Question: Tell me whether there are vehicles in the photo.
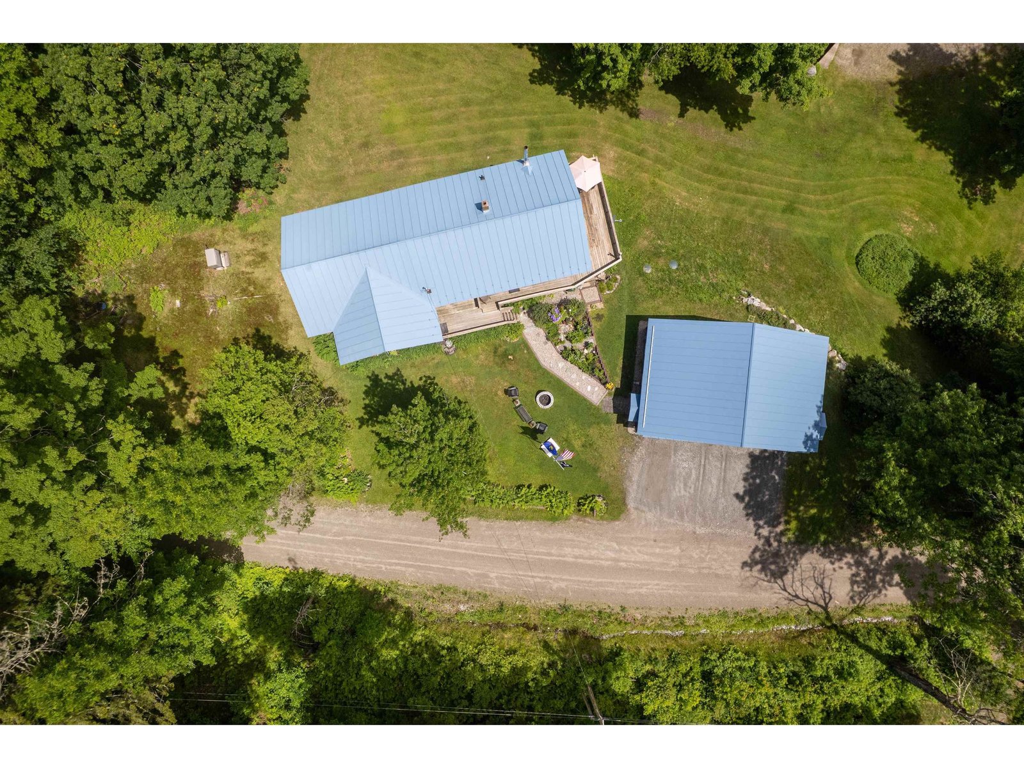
No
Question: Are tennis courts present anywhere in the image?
No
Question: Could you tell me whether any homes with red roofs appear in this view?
No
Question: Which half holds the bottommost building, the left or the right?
right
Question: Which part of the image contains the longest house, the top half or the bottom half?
top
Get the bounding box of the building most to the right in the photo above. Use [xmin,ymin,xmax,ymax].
[628,318,829,452]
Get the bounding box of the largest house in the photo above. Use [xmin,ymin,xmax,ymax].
[281,145,592,363]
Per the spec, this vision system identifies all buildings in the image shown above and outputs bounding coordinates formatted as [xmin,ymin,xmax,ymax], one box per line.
[281,145,592,363]
[628,318,829,452]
